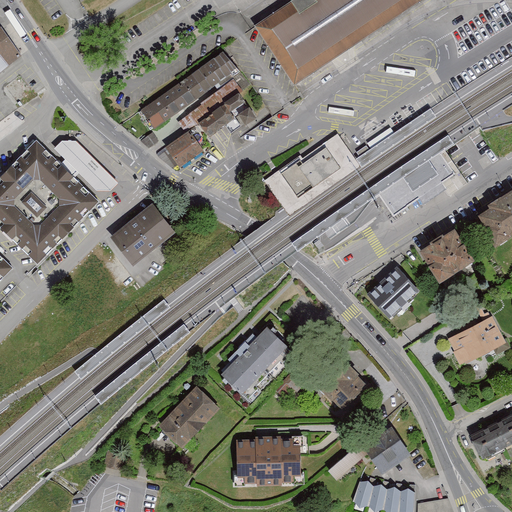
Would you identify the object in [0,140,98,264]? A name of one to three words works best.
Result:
building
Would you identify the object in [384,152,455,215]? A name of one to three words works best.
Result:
building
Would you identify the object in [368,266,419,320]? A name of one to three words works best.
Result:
house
